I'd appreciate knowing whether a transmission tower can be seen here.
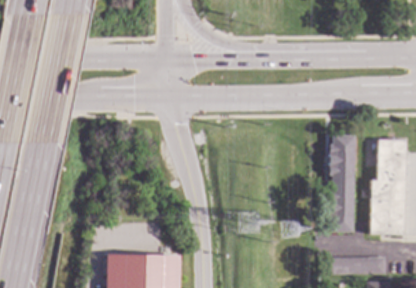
Yes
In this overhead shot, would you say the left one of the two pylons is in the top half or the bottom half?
bottom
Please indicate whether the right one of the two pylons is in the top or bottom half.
bottom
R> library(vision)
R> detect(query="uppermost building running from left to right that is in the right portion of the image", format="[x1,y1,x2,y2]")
[330,256,387,275]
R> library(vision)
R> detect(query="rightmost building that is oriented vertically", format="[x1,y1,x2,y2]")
[367,138,408,235]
